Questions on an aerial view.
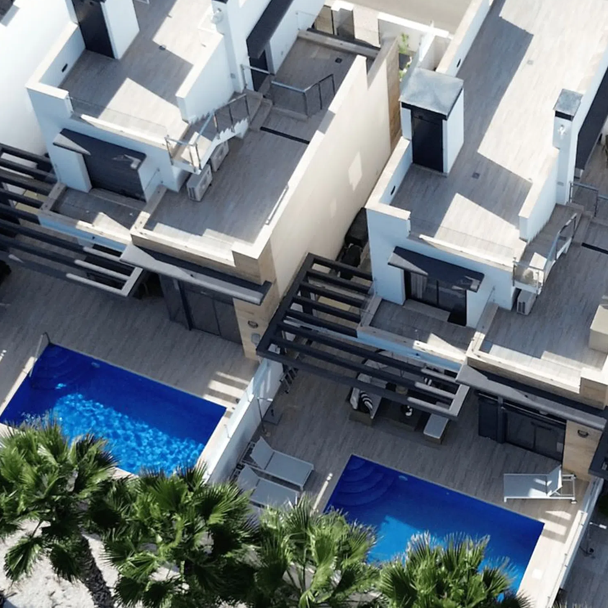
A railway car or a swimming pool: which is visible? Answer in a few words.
swimming pool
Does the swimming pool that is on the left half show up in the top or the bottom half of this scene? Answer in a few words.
bottom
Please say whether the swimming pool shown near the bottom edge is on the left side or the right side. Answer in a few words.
right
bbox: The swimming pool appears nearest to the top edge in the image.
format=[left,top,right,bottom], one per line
[0,339,223,481]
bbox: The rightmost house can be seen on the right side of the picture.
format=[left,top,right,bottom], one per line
[357,0,608,475]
